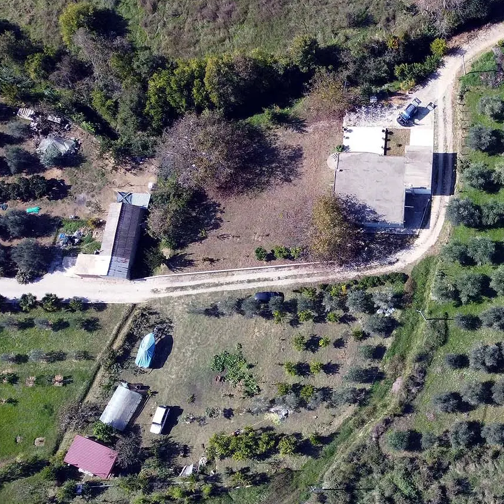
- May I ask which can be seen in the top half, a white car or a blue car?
blue car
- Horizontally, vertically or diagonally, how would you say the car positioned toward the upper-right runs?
diagonally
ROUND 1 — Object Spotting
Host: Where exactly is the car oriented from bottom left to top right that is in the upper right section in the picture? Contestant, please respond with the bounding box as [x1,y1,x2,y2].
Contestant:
[398,97,419,127]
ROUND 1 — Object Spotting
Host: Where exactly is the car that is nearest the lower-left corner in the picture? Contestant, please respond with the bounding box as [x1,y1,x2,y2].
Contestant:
[150,405,171,435]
